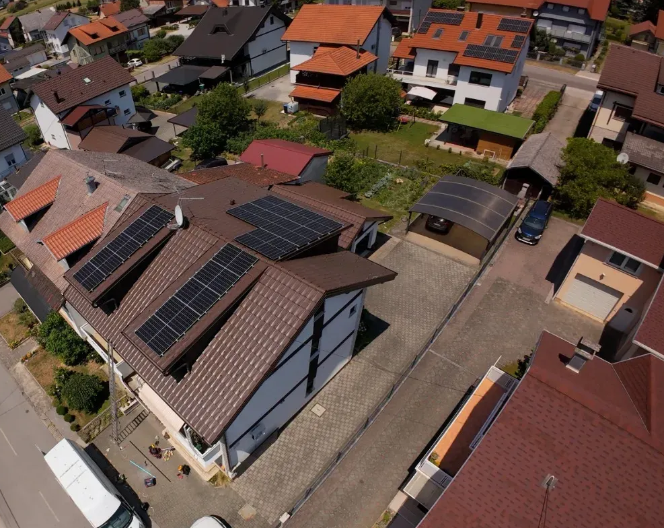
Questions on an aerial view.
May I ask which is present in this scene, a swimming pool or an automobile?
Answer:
automobile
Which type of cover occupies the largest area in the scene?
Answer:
buildings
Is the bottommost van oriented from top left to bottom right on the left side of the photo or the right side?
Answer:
left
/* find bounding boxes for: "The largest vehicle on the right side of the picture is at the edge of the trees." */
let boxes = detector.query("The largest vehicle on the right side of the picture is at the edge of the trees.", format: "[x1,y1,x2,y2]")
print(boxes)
[517,189,559,237]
